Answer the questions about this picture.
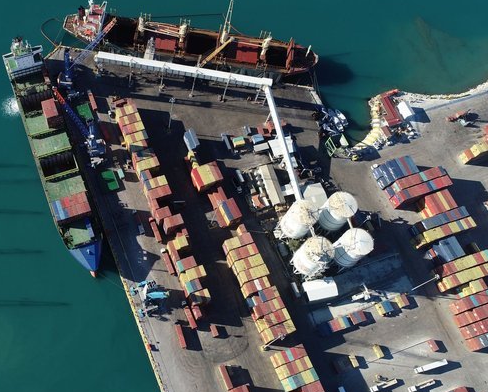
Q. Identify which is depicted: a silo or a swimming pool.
silo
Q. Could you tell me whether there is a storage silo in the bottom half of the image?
Yes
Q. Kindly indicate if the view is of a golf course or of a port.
port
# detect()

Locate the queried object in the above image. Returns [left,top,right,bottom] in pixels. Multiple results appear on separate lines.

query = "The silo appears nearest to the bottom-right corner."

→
[330,229,373,272]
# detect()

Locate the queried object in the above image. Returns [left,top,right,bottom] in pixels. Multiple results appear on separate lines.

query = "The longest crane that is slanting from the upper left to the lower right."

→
[32,85,115,164]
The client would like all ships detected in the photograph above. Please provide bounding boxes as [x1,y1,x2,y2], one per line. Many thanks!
[61,0,318,81]
[7,44,104,282]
